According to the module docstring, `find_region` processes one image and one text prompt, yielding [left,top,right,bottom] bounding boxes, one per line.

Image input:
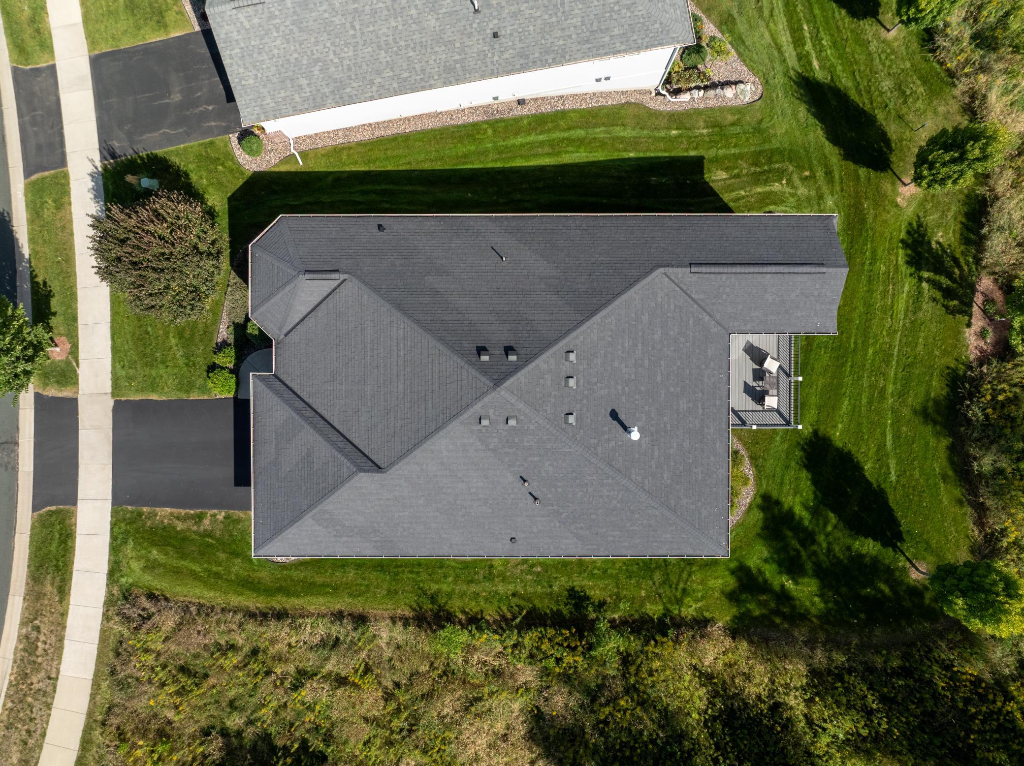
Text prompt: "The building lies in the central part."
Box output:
[250,215,848,558]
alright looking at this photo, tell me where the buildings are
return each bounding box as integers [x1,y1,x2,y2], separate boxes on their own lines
[250,215,848,558]
[207,0,695,164]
